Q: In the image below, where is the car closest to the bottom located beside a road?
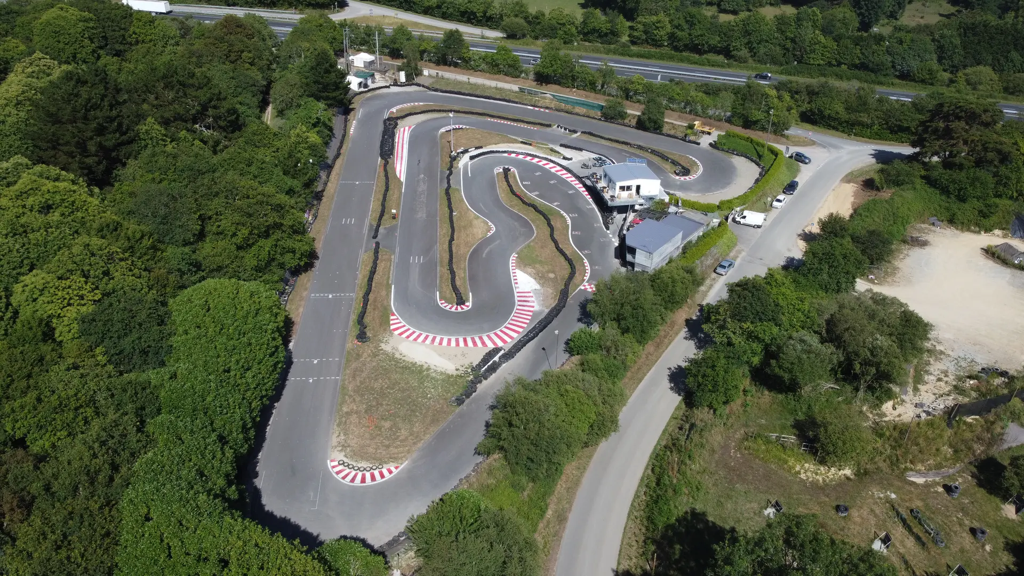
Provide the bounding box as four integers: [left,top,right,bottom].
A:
[714,259,736,273]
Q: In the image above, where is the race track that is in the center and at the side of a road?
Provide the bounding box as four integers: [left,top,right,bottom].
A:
[254,91,738,560]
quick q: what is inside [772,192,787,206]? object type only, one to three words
car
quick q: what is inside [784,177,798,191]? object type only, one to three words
car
